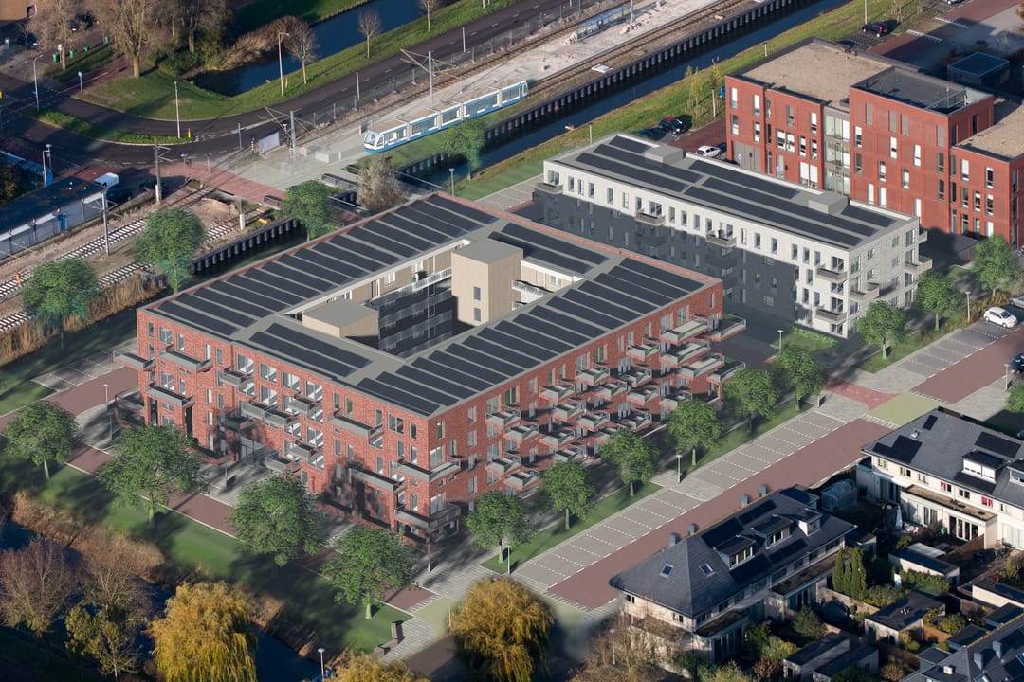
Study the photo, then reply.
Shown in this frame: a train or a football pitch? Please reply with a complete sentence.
This aerial view contains a train.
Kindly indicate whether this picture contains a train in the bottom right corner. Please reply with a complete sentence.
No, looking in the bottom right corner, there is no train.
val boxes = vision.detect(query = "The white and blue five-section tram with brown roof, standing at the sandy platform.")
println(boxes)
[359,77,519,154]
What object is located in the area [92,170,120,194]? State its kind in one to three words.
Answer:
vehicle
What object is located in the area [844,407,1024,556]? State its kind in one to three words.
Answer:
house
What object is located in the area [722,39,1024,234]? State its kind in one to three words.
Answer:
building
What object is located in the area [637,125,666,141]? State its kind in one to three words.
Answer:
car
